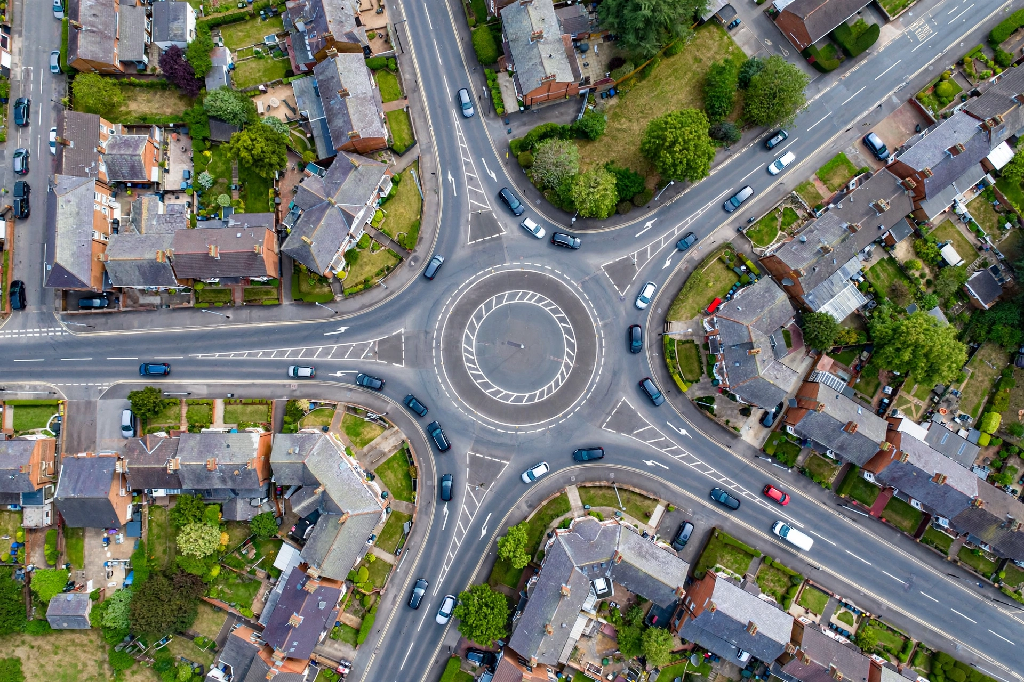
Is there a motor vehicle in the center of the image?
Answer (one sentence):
Yes, a motor vehicle can be seen in the center of the image.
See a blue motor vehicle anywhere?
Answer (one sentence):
Yes, the picture does show a blue motor vehicle.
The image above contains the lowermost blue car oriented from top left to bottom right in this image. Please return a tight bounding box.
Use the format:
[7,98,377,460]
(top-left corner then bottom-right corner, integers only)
[708,485,743,512]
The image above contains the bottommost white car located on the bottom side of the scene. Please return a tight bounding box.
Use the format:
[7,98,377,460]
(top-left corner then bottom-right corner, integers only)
[436,592,456,624]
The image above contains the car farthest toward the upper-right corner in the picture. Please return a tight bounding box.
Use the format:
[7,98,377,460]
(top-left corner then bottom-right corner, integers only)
[862,130,887,161]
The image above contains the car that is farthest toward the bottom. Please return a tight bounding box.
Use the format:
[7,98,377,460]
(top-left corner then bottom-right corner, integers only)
[465,648,495,667]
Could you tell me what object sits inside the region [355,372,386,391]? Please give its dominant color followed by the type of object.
blue car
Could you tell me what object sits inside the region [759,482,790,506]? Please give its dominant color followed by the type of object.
red car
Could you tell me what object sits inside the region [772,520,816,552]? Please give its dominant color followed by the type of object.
white van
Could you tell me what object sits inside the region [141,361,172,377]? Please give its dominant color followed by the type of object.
blue car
